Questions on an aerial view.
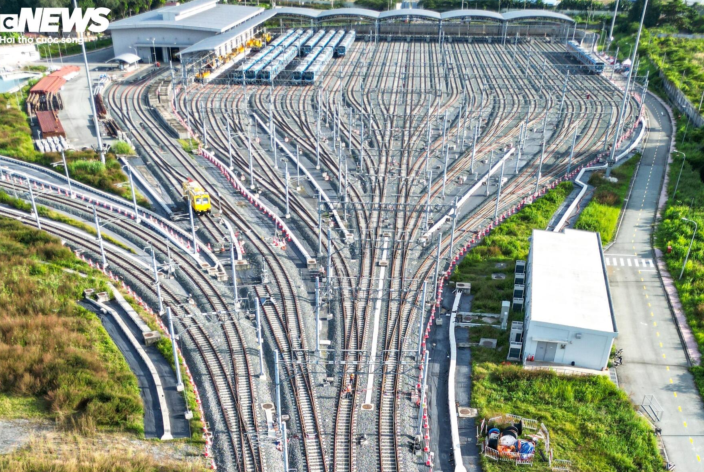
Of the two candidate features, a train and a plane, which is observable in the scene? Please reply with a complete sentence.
The image shows a train.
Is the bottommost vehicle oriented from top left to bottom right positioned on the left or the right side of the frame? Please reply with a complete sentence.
The bottommost vehicle oriented from top left to bottom right appears in the left half of the scene.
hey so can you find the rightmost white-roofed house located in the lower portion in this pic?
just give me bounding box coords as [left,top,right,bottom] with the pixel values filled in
[520,231,619,379]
